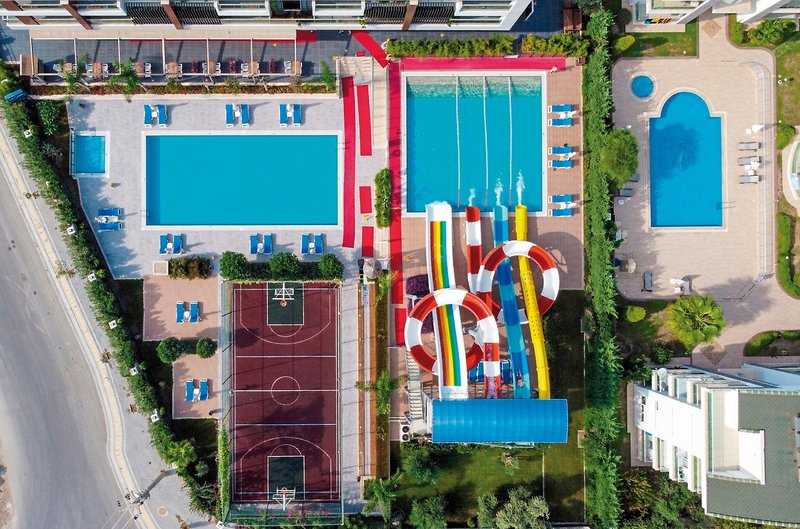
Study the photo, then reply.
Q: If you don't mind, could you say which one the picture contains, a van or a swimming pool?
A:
swimming pool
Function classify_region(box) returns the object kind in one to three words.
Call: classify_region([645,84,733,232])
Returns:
swimming pool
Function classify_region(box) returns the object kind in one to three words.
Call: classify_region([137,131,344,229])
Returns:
swimming pool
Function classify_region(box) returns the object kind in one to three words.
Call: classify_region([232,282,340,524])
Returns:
basketball court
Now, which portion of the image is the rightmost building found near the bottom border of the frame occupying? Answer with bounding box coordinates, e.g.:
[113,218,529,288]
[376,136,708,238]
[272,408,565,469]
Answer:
[634,355,800,529]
